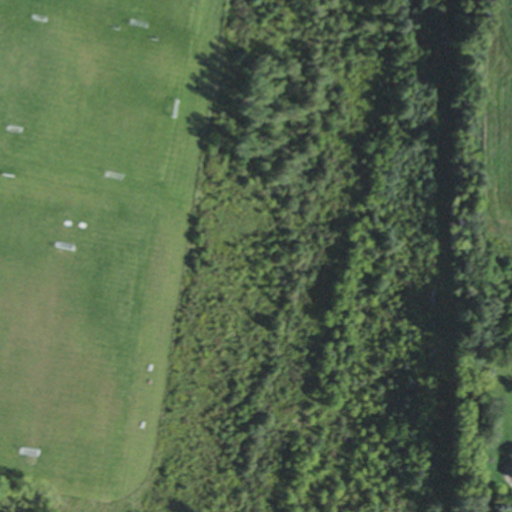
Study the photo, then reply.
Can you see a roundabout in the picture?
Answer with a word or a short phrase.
No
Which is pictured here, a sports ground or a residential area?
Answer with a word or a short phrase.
sports ground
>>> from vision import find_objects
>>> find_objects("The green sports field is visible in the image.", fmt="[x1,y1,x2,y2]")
[0,0,224,512]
